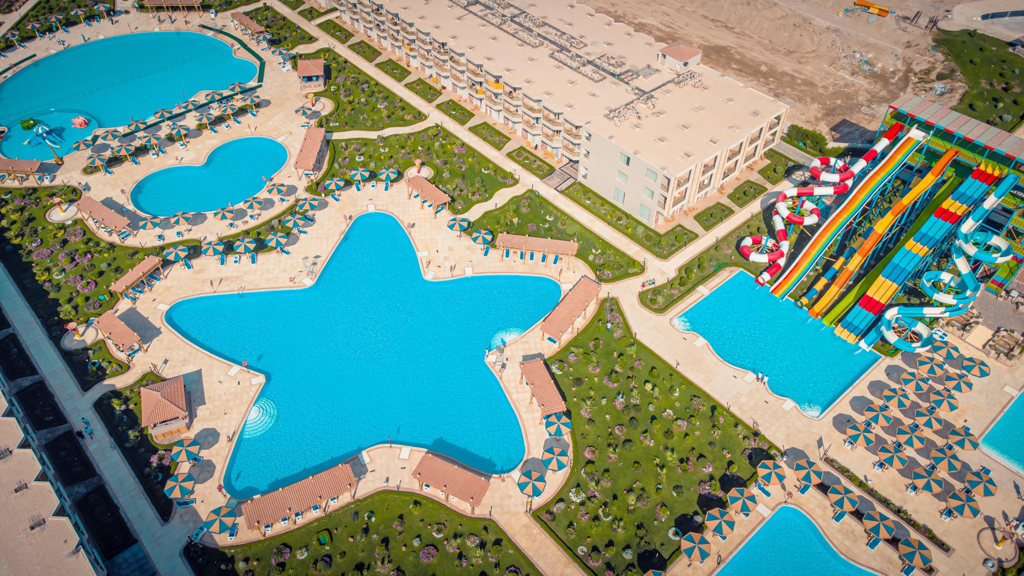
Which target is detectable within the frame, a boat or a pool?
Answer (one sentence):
The image shows a pool.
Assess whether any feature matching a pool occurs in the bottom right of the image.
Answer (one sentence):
Yes, a pool shows up in the bottom right of the image.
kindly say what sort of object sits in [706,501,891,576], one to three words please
swimming pool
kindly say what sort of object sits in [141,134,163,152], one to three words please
umbrella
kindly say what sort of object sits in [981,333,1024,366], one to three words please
fountain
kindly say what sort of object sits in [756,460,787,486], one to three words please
umbrella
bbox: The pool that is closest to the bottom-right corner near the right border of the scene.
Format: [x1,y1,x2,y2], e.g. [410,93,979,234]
[976,388,1024,482]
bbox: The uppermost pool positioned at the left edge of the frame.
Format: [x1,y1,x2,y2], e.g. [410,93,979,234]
[0,29,259,163]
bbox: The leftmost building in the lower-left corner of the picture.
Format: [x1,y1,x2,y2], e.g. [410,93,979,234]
[0,381,107,576]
